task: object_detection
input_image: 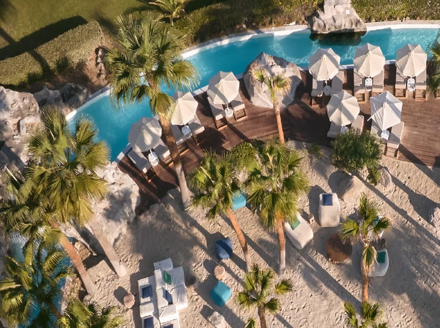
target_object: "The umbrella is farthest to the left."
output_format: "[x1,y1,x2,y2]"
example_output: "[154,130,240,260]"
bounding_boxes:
[130,116,164,156]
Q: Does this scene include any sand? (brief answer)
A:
Yes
